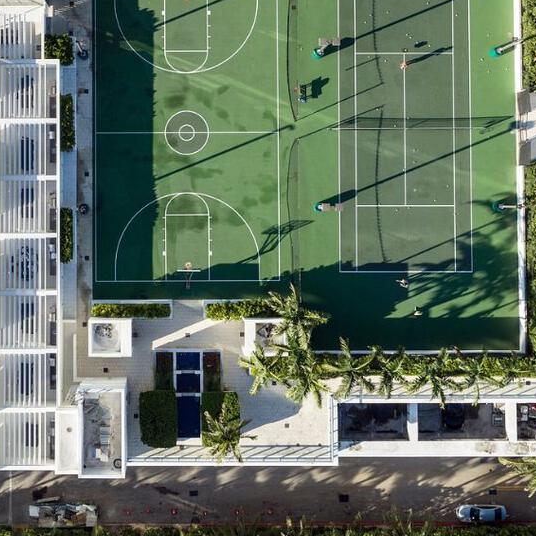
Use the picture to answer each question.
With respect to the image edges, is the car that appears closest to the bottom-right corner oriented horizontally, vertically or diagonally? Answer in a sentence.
The car that appears closest to the bottom-right corner runs horizontally in the image.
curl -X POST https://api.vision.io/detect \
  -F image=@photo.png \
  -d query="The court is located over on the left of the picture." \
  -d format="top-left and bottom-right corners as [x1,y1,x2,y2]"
[92,0,297,300]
